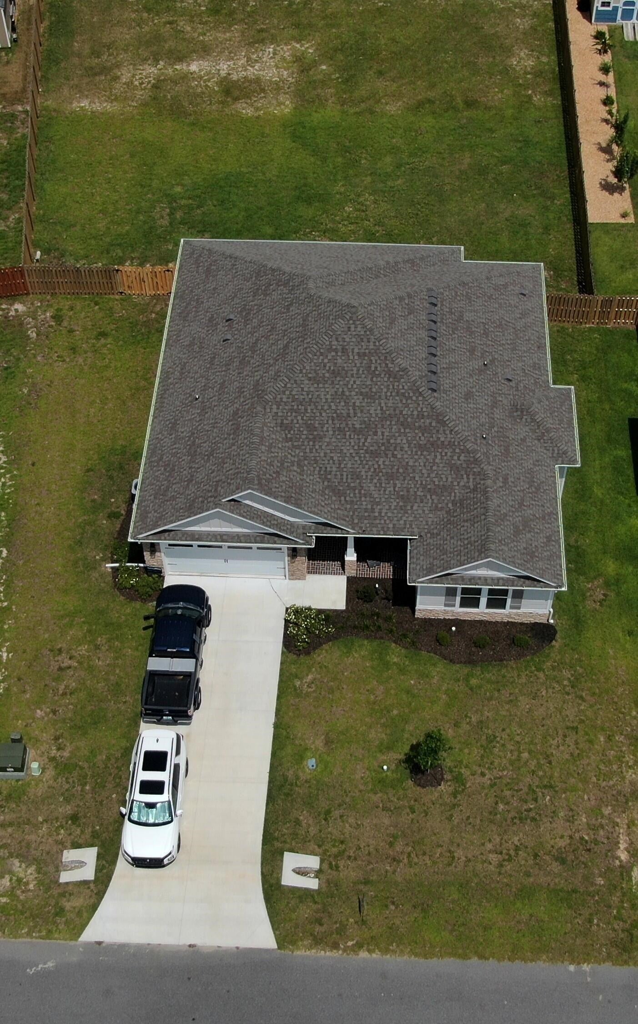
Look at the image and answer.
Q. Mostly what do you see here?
grass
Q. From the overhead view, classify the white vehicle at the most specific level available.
car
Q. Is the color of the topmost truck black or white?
black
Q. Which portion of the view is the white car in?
bottom left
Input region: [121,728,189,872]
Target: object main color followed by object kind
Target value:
white car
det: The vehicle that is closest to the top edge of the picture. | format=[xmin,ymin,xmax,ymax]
[141,583,210,724]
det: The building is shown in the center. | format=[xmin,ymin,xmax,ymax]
[130,238,580,629]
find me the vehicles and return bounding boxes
[141,583,210,724]
[121,728,189,872]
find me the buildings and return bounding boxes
[590,0,638,24]
[130,238,580,629]
[0,0,20,47]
